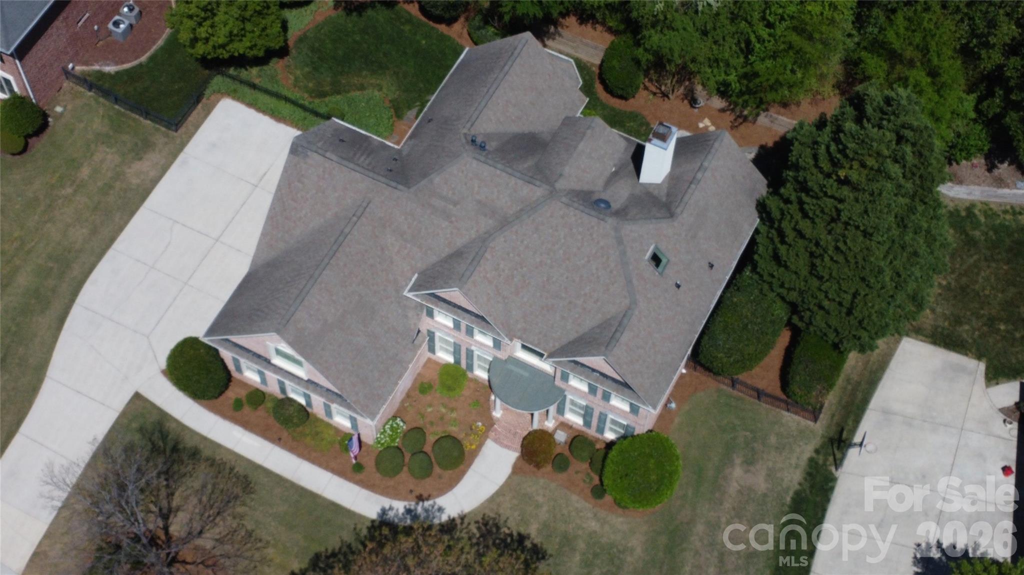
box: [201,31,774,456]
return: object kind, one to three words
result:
house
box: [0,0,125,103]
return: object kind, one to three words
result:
house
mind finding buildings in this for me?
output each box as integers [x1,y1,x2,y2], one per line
[201,31,774,456]
[0,0,125,103]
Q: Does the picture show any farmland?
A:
No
